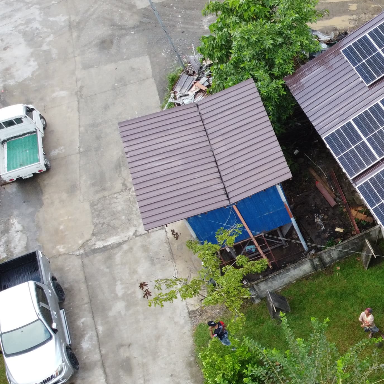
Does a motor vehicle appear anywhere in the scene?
Yes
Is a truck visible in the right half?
No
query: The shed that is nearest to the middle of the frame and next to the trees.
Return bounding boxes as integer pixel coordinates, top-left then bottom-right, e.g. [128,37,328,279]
[118,82,310,278]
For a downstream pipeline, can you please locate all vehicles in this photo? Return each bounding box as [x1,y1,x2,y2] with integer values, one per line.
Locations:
[0,100,54,184]
[0,250,84,384]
